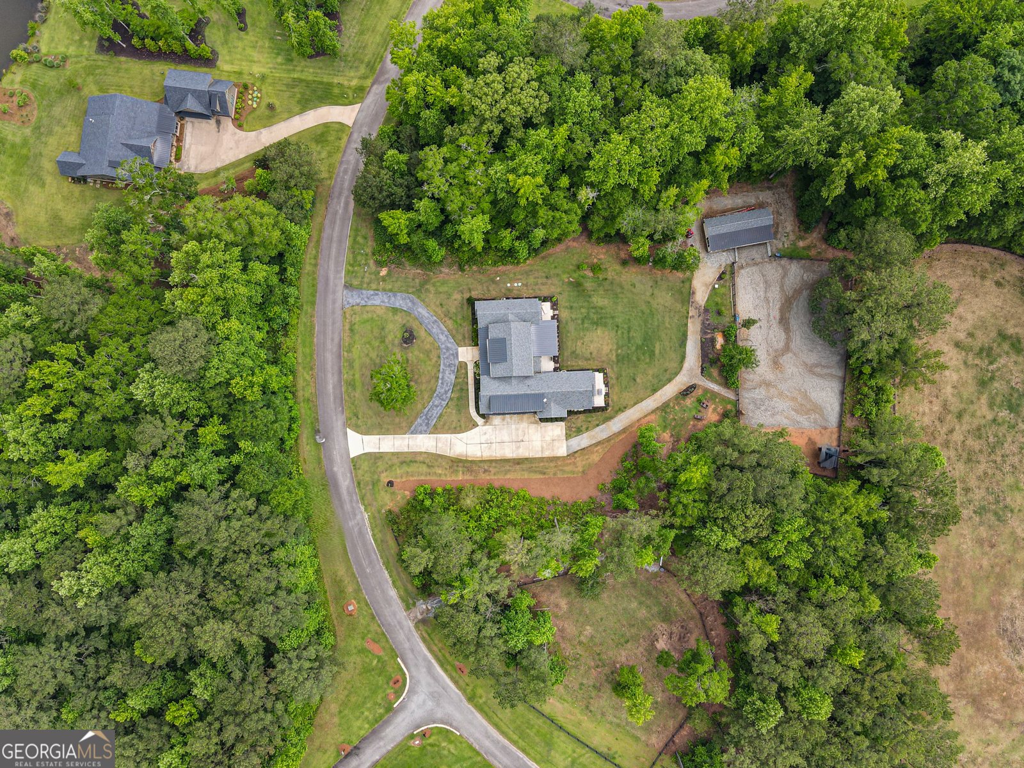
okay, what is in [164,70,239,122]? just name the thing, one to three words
building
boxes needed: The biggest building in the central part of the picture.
[475,297,596,418]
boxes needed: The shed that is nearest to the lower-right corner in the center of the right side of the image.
[820,446,845,469]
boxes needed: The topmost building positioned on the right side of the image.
[701,208,777,254]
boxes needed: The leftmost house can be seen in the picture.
[56,93,182,181]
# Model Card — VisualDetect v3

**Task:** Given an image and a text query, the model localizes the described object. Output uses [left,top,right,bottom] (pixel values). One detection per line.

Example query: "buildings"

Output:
[701,208,777,254]
[164,70,239,122]
[475,297,596,418]
[56,93,182,181]
[820,446,845,469]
